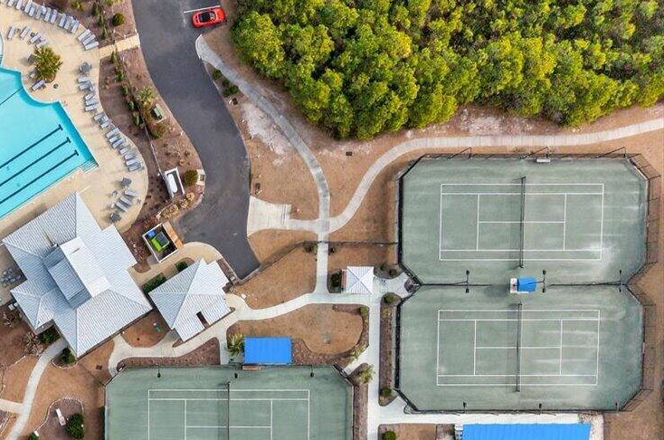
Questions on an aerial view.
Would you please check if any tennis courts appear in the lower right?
Yes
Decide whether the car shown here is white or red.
red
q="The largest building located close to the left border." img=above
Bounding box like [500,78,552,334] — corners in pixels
[2,192,152,358]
